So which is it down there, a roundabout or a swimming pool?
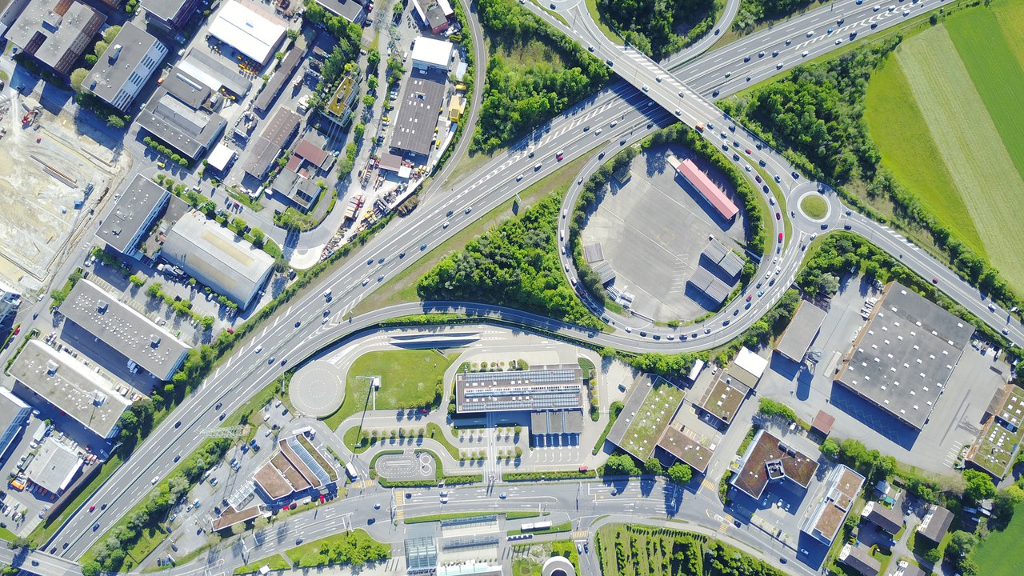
roundabout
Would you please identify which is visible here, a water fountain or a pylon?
pylon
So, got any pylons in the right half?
No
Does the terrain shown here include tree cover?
Yes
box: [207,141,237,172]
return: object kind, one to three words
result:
building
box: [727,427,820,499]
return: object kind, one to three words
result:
building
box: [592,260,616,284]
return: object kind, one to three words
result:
shed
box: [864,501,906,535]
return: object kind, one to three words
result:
house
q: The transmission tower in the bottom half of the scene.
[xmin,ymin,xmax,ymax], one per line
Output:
[212,421,255,453]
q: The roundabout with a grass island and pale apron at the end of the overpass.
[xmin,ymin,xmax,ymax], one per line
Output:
[787,179,841,234]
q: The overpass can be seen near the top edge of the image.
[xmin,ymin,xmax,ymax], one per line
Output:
[524,0,802,198]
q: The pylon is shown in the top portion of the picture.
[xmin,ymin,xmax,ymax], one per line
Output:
[375,35,410,56]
